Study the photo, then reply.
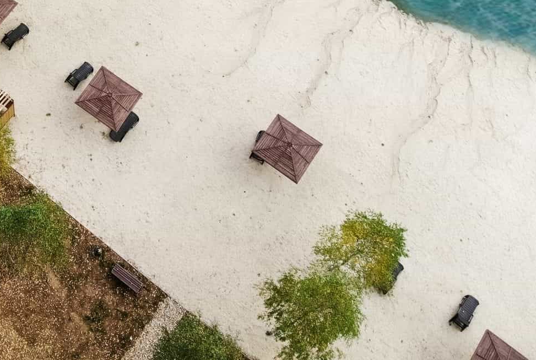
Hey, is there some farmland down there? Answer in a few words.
No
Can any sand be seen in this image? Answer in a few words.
Yes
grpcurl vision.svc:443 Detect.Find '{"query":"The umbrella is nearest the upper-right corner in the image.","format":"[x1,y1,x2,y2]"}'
[252,113,323,183]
